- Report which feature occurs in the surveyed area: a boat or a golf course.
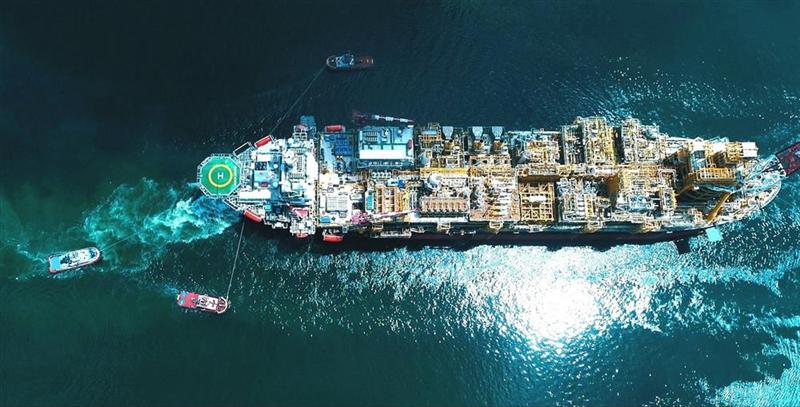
boat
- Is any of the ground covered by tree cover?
No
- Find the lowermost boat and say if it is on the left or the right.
left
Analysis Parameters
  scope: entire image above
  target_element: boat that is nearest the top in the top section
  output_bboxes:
[328,50,372,68]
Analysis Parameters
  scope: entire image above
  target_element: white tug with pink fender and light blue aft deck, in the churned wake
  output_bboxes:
[45,247,98,273]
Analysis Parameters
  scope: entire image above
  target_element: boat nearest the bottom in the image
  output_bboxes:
[173,288,226,311]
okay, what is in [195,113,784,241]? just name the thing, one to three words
ship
